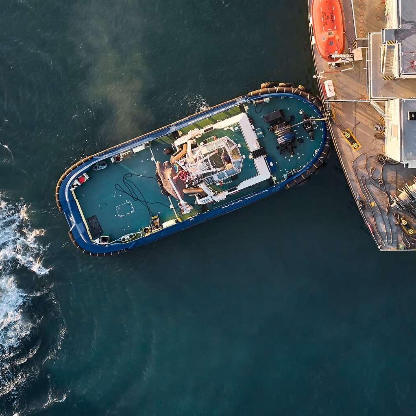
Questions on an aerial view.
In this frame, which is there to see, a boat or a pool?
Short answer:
boat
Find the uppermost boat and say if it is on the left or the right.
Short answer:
right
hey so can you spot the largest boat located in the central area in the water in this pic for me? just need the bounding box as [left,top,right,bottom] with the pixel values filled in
[56,82,334,256]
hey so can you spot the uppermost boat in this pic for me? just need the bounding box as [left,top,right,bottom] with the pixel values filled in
[310,0,347,63]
